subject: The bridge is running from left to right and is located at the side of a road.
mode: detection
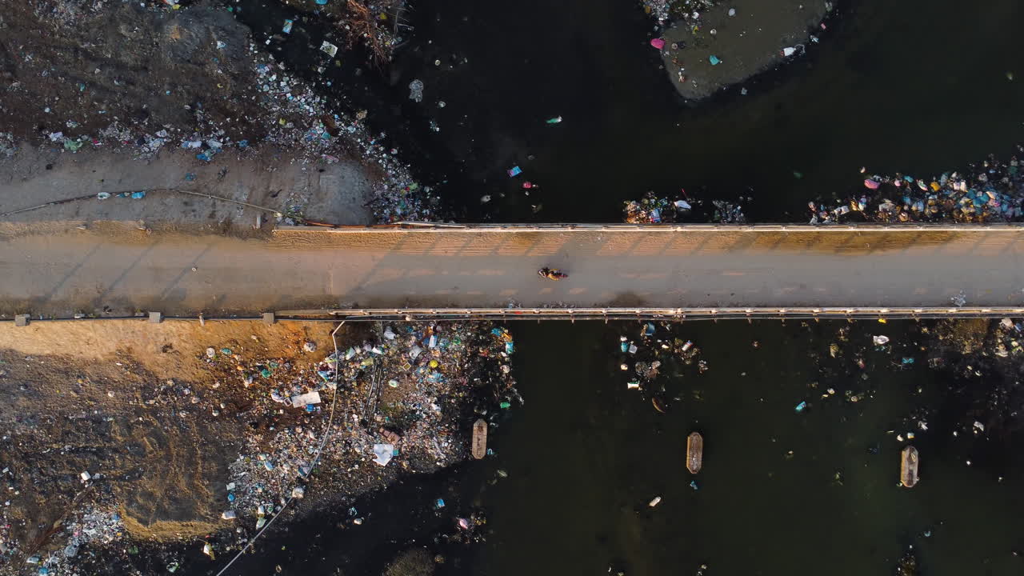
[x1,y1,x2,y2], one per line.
[325,225,1024,324]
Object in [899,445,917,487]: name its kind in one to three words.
boat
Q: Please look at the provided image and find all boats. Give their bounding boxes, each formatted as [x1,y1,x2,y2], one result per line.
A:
[686,432,701,474]
[899,445,917,487]
[472,419,487,459]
